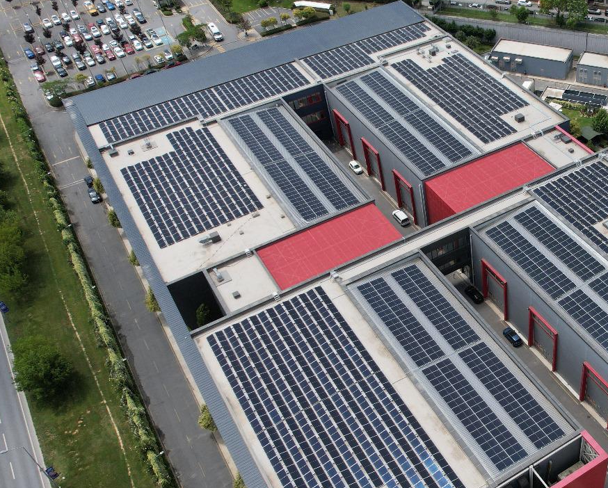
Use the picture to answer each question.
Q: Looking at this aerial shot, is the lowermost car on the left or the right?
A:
right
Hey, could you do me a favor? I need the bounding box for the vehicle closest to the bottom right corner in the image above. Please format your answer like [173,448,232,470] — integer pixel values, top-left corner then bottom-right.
[499,325,525,349]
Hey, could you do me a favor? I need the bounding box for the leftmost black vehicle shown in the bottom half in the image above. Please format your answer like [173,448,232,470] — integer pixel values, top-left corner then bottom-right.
[462,284,485,305]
